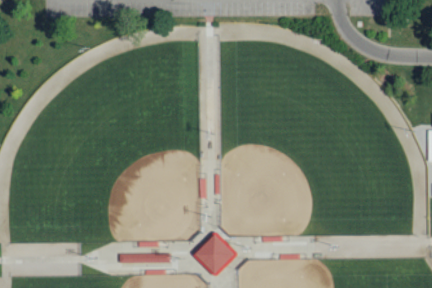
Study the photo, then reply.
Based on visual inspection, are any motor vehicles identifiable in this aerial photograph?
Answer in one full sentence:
No, the scene contains no motor vehicle.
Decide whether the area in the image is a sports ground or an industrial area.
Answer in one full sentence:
This image shows a sports ground.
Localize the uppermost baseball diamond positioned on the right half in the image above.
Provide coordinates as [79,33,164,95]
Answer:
[221,41,414,236]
